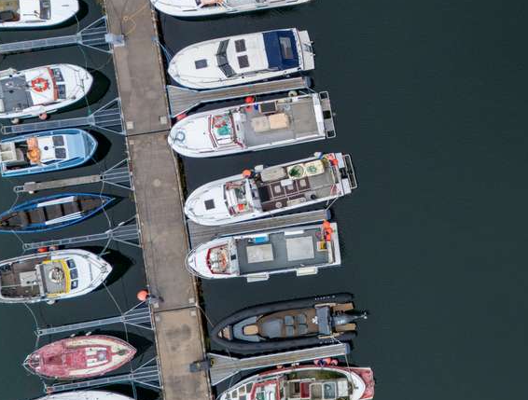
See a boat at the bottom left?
Yes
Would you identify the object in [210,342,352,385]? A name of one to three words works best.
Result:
pier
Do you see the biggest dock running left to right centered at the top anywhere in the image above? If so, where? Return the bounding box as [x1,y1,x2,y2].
[169,75,310,117]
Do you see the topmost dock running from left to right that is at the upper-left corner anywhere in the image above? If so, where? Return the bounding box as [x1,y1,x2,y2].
[0,17,112,54]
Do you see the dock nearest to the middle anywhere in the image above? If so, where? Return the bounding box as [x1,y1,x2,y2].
[188,209,333,249]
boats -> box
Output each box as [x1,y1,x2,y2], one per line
[0,68,95,119]
[183,153,357,222]
[151,0,307,17]
[219,365,375,400]
[165,27,316,87]
[0,250,115,306]
[20,333,138,380]
[0,191,117,233]
[0,0,81,30]
[0,129,99,176]
[183,223,344,282]
[165,91,337,156]
[213,292,367,350]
